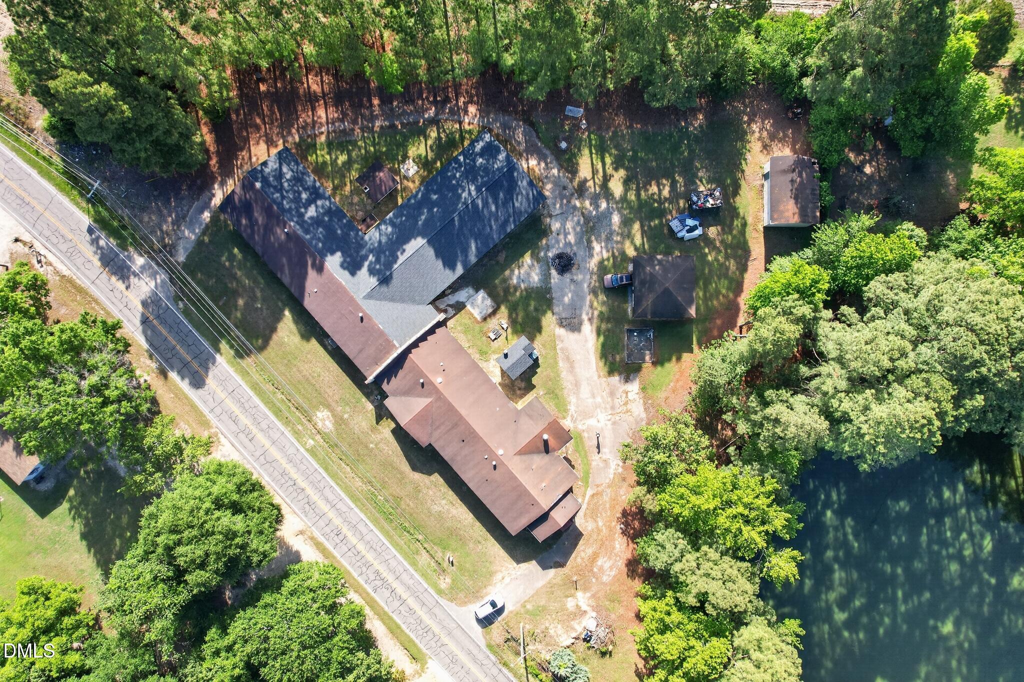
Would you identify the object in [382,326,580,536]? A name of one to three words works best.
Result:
house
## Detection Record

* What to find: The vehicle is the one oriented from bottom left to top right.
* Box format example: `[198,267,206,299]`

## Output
[473,596,506,622]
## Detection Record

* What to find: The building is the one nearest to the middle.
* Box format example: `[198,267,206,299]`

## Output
[496,335,539,380]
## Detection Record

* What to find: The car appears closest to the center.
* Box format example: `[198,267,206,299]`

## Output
[606,272,632,288]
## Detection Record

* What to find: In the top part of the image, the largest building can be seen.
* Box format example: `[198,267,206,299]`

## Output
[219,129,547,382]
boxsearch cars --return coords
[606,272,632,288]
[473,596,506,622]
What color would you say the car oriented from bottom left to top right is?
white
